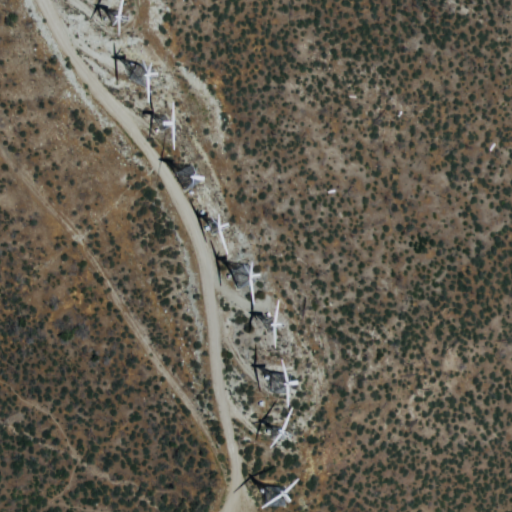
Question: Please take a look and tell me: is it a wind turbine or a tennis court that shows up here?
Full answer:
This aerial view contains a wind turbine.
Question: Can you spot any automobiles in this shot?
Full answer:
No, there appears to be no automobile in this shot.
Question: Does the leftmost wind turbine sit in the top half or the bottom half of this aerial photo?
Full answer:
The leftmost wind turbine is in the top half of the image.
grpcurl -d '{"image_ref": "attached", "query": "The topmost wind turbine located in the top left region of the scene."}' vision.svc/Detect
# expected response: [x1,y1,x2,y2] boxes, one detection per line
[106,0,129,34]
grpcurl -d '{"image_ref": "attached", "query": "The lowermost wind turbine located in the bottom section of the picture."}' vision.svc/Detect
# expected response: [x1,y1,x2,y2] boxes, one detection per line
[262,480,296,510]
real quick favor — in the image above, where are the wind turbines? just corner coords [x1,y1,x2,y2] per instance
[229,262,261,304]
[268,359,299,408]
[106,0,129,34]
[262,480,296,510]
[170,148,204,190]
[210,212,230,253]
[155,102,177,150]
[268,407,292,450]
[126,60,159,102]
[262,300,284,349]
